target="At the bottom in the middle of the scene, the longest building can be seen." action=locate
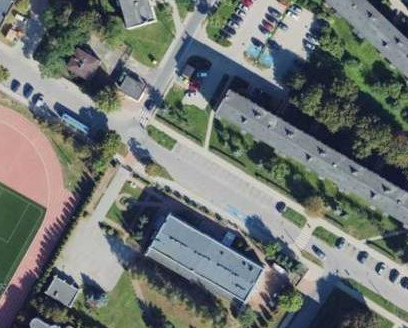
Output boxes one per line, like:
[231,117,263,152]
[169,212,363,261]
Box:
[148,214,263,305]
